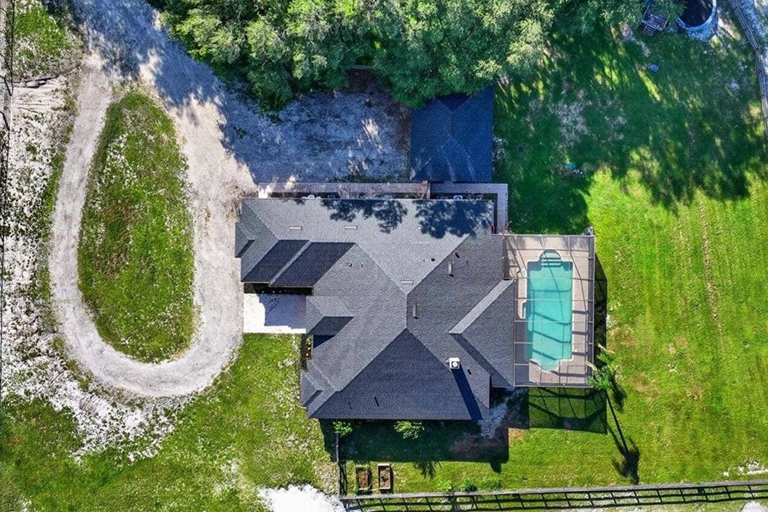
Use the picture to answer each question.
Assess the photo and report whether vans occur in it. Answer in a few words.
No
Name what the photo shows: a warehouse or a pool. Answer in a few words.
pool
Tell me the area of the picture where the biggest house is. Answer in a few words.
center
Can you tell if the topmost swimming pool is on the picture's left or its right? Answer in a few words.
right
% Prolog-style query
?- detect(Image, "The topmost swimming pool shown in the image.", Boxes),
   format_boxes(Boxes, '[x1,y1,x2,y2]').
[672,0,717,33]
